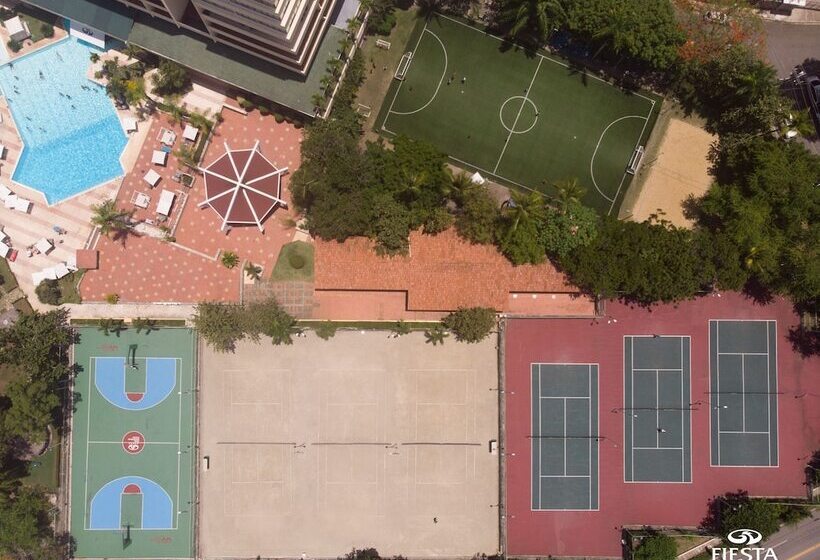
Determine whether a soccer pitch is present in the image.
Yes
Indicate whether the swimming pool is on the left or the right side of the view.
left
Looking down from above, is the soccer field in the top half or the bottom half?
top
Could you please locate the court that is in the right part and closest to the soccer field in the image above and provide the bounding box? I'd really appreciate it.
[623,116,719,229]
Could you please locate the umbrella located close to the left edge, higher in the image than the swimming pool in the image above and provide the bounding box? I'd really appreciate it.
[5,18,26,35]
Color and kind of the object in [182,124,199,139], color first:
white umbrella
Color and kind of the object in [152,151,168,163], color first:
white umbrella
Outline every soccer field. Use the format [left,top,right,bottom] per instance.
[369,9,666,224]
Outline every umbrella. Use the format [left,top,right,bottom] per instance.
[152,151,168,163]
[157,189,176,214]
[15,199,36,214]
[5,18,26,35]
[33,272,46,285]
[54,261,74,277]
[0,183,17,199]
[42,266,58,280]
[143,170,161,187]
[65,254,76,269]
[182,124,199,139]
[35,235,57,254]
[0,241,17,257]
[6,195,19,207]
[123,117,139,129]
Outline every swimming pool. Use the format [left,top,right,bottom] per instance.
[0,34,130,208]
